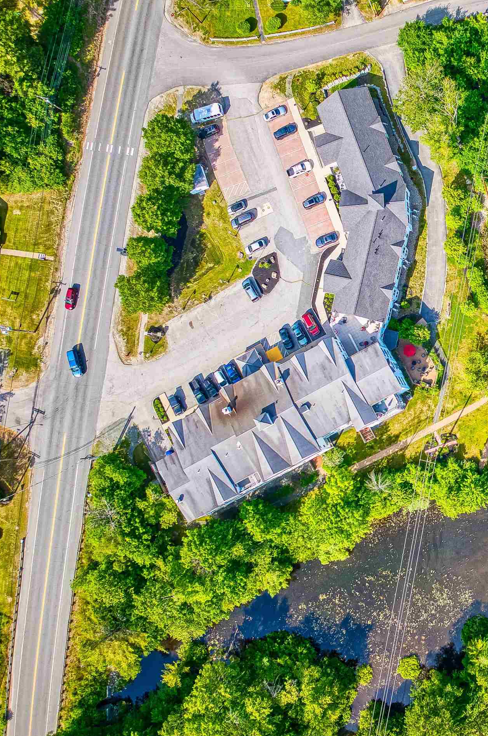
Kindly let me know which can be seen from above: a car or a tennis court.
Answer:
car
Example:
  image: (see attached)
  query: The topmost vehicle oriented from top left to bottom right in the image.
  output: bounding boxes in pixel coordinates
[239,278,263,300]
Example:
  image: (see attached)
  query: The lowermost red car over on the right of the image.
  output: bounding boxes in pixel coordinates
[301,312,320,336]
